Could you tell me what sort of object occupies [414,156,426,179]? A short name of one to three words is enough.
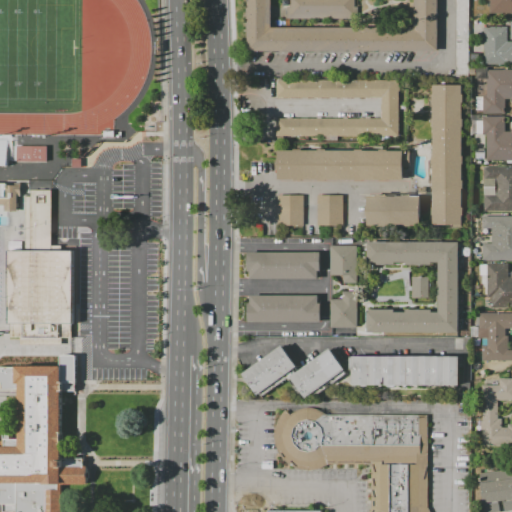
swimming pool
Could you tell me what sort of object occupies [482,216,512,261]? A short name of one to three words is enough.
house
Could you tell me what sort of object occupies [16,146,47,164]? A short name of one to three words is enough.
shed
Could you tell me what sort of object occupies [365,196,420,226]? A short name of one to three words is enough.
building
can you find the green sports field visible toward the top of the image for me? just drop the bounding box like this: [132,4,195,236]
[0,0,82,112]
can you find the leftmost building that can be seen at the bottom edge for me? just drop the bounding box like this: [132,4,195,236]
[0,365,59,512]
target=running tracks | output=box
[0,0,152,134]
